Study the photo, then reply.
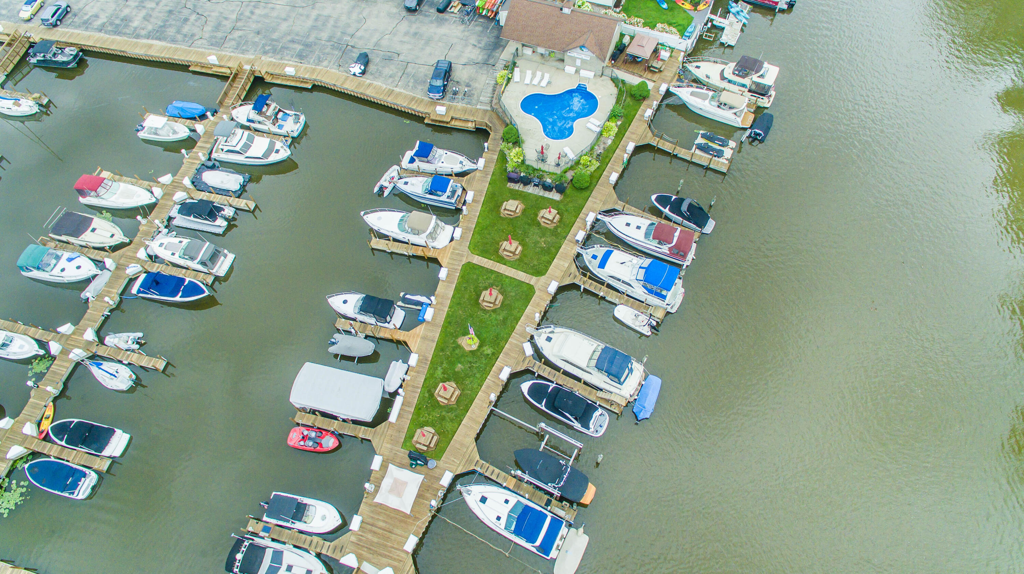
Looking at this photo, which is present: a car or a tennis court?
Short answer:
car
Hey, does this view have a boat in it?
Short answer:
Yes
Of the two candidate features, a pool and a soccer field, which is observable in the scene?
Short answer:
pool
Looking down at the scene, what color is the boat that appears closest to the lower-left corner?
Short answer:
blue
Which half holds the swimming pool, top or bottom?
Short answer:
top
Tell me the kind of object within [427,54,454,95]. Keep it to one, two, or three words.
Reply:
car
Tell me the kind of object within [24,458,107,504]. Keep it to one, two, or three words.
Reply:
boat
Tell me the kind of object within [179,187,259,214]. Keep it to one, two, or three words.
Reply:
pier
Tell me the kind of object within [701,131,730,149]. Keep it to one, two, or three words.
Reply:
vessel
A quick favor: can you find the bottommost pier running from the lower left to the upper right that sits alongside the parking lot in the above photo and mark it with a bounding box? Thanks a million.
[0,108,233,489]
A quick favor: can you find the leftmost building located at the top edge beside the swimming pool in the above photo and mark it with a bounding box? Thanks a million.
[499,0,635,83]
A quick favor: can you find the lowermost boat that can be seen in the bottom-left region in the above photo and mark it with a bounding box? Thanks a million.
[218,524,333,574]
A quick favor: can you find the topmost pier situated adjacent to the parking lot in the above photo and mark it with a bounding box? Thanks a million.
[708,3,752,48]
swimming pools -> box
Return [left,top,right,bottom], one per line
[519,72,600,141]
